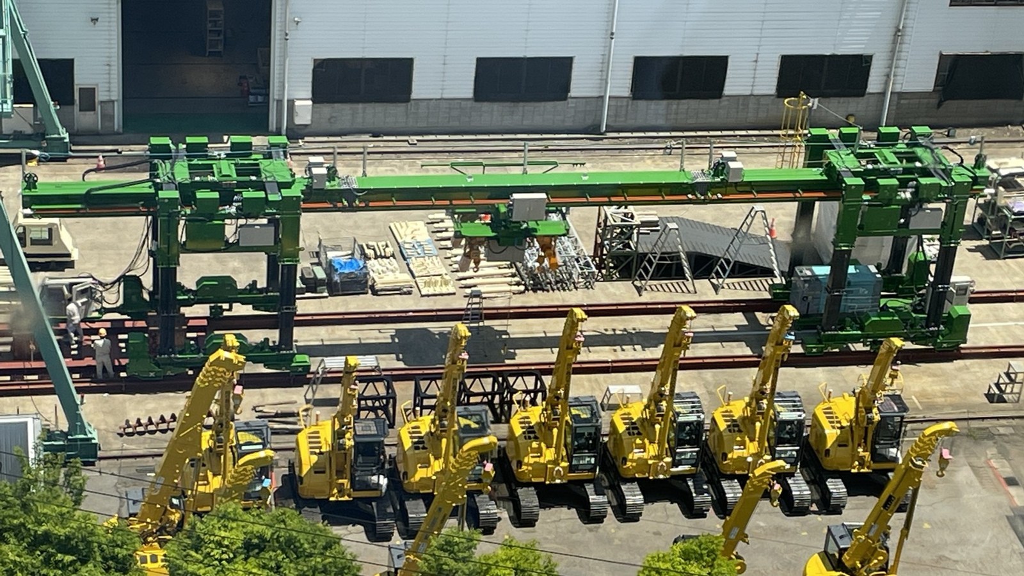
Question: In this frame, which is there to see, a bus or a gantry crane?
gantry crane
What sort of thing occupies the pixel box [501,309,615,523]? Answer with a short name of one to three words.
crane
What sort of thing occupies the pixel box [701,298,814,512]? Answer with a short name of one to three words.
crane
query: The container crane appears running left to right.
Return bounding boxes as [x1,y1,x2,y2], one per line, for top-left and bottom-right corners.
[20,121,997,373]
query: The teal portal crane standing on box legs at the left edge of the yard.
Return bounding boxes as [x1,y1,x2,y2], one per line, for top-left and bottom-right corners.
[0,0,101,462]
